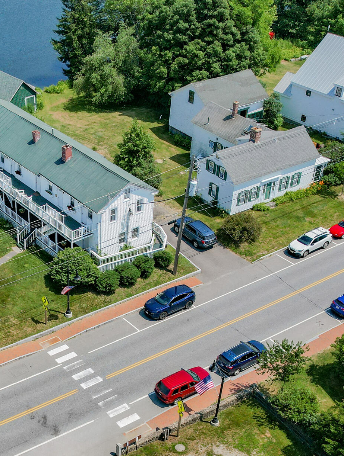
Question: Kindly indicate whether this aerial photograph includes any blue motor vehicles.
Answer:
Yes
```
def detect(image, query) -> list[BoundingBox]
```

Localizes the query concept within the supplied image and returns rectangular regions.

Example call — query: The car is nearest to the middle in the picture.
[171,219,222,249]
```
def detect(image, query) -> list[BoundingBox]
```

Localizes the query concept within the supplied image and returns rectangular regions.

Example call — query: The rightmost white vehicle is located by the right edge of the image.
[286,225,334,257]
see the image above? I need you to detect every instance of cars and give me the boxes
[171,219,222,249]
[211,341,266,377]
[328,293,344,321]
[286,225,334,257]
[151,367,211,406]
[331,223,344,243]
[143,285,198,321]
